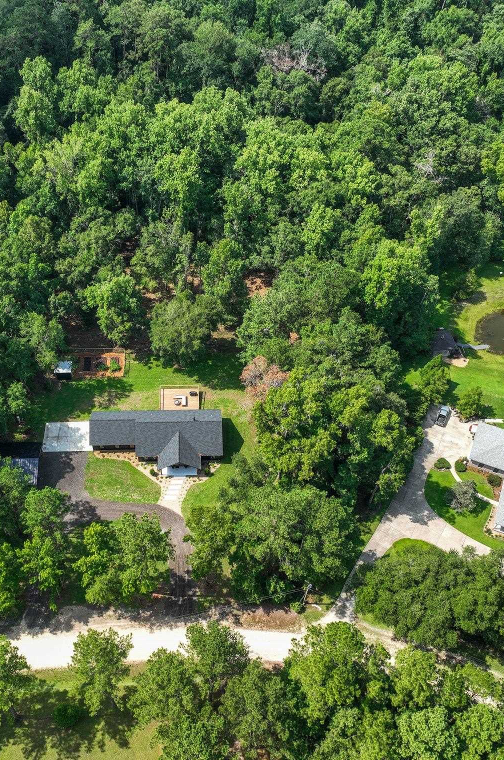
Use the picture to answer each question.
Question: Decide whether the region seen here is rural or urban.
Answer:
rural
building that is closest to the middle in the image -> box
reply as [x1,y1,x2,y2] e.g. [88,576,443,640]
[89,410,223,480]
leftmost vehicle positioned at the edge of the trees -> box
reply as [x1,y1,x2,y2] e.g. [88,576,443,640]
[433,402,453,427]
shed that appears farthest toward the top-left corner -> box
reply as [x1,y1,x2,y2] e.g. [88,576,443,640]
[53,361,73,380]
